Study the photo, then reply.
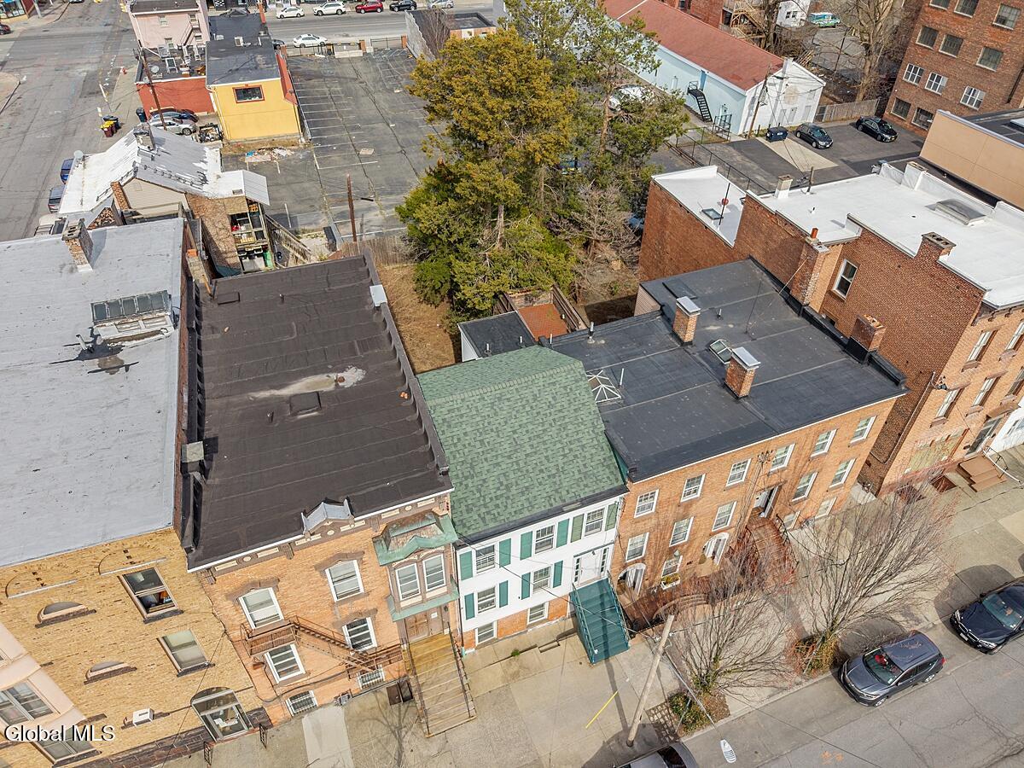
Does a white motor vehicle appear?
Yes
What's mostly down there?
buildings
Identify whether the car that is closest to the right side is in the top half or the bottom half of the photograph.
bottom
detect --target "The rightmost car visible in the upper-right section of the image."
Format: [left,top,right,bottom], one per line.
[849,118,897,142]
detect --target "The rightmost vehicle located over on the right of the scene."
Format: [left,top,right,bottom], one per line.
[941,580,1024,661]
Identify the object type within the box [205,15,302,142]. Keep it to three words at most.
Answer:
building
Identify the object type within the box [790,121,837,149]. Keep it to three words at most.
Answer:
car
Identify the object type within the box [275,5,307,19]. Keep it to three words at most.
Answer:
car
